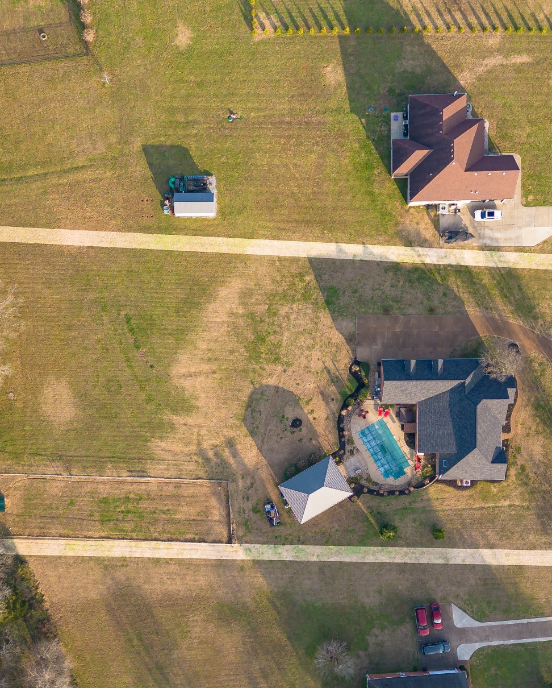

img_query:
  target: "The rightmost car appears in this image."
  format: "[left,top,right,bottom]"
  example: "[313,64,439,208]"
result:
[476,209,505,222]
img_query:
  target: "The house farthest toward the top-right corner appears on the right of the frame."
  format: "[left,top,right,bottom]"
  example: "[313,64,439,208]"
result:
[390,90,519,205]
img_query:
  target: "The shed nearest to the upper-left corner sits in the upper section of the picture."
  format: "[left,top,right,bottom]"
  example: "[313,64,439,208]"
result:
[174,192,215,216]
